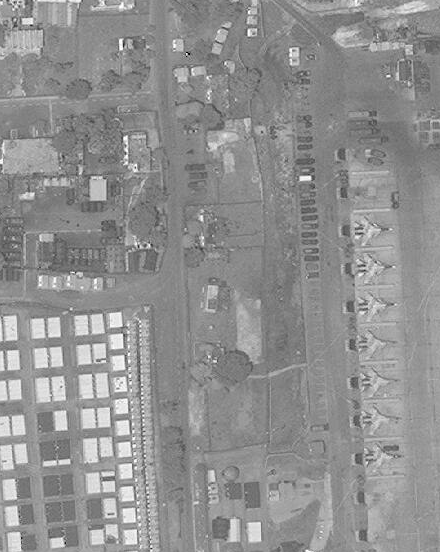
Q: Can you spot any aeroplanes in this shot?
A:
Yes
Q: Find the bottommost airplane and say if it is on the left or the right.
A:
right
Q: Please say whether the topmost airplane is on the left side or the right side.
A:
right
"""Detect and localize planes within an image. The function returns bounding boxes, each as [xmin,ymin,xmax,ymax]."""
[363,444,404,471]
[357,329,397,357]
[359,367,399,395]
[355,291,396,319]
[361,406,401,434]
[352,216,392,244]
[354,254,393,282]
